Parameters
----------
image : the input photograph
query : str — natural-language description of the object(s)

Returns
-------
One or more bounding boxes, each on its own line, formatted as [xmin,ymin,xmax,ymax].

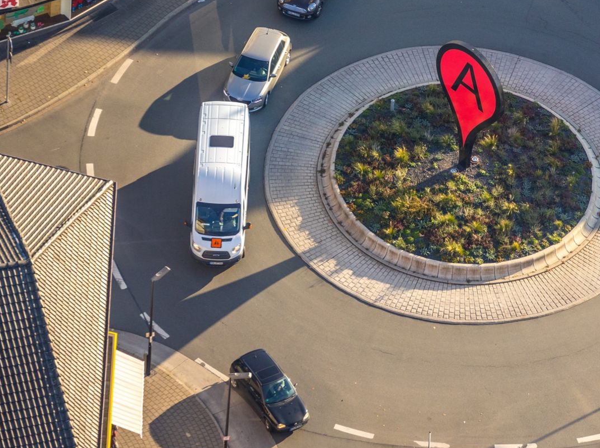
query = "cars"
[277,0,324,20]
[235,347,312,433]
[223,23,290,115]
